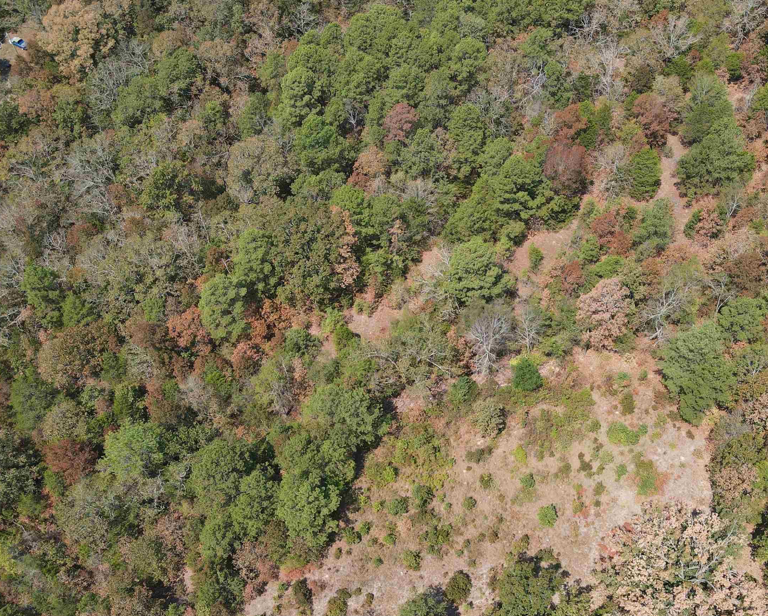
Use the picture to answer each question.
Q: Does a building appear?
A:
No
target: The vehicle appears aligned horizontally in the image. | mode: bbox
[5,39,31,52]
